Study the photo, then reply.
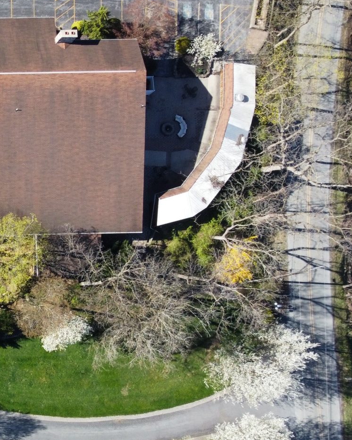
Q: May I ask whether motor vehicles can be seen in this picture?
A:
No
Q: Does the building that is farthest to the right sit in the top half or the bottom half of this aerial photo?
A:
top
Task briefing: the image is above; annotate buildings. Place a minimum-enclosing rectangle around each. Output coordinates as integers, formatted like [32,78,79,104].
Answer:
[0,17,157,281]
[146,64,256,228]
